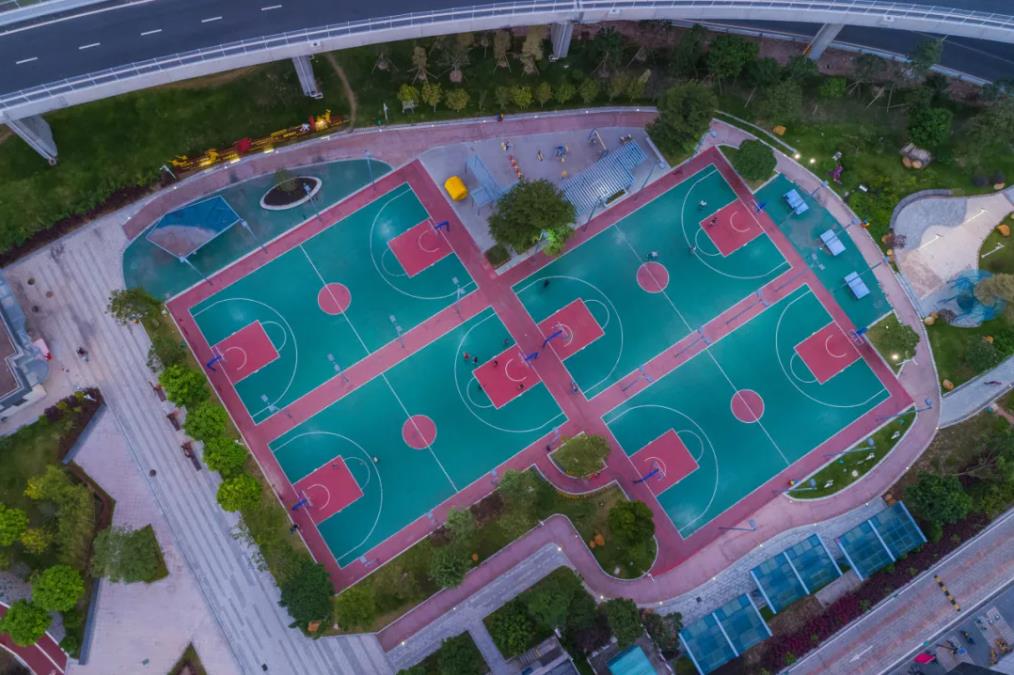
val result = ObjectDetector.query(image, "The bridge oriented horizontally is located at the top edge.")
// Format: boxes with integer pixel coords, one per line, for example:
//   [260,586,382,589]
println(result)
[0,0,1014,163]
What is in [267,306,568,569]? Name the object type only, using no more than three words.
basketball court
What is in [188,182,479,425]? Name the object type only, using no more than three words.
basketball court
